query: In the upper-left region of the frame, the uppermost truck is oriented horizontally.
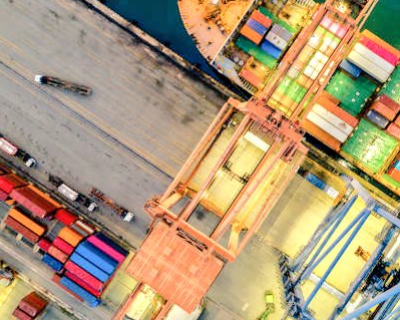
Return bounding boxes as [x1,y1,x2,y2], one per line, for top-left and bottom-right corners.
[32,71,95,96]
